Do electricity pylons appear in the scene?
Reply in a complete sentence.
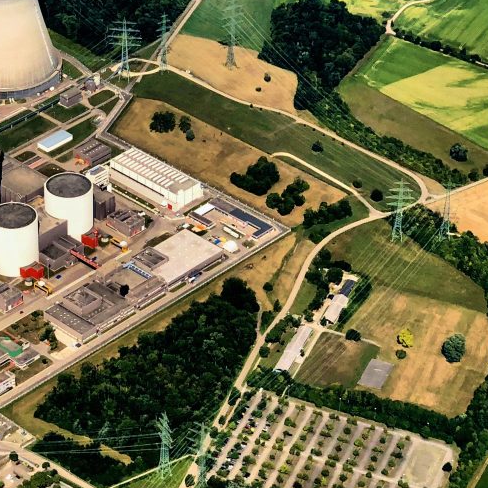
Yes, this view includes an electricity pylon.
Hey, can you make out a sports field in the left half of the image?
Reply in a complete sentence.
No, no sports field appears in the left half of the image.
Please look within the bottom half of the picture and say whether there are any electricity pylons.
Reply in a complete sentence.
Yes, you'll find an electricity pylon within the bottom half of the picture.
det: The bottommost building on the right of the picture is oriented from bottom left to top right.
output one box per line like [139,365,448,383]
[273,324,314,375]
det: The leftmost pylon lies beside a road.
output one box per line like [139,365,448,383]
[110,21,141,77]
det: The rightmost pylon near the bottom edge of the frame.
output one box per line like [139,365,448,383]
[191,420,211,482]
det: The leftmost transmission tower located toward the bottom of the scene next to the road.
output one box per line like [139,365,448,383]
[155,412,177,482]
